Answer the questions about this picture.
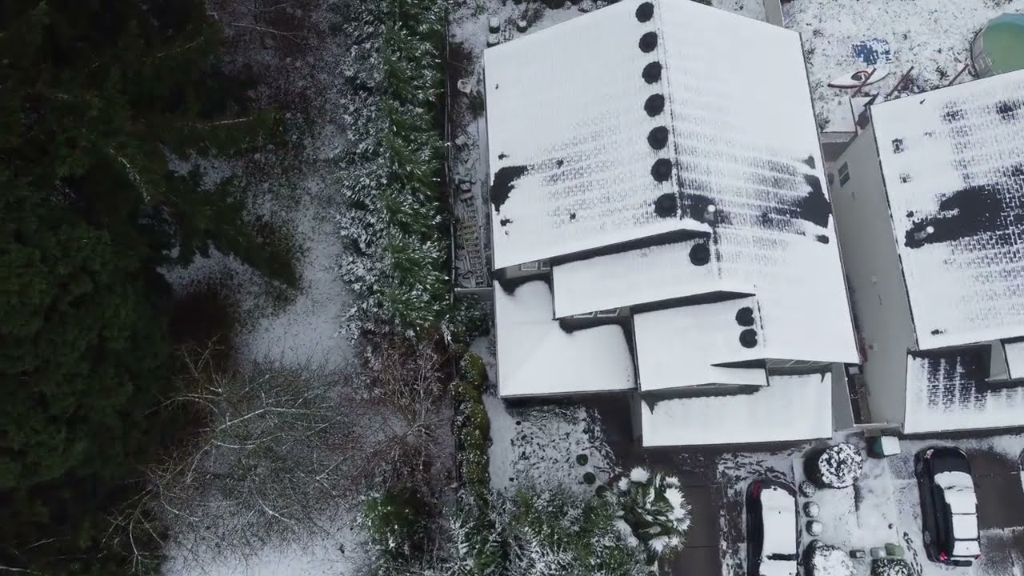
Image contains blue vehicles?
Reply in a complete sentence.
No, the frame has no blue vehicle in it.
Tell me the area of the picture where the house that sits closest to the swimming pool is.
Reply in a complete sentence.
The house that sits closest to the swimming pool sits in the right section of the image.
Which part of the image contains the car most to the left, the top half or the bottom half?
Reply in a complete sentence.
Seen from above, the car most to the left lies in the bottom half of the view.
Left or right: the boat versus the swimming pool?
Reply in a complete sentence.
Relative to the swimming pool, the boat is on the left.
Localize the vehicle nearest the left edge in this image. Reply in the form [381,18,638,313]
[743,479,805,576]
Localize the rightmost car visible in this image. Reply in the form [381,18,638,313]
[912,446,985,568]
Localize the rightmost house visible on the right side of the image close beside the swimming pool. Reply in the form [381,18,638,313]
[827,65,1024,436]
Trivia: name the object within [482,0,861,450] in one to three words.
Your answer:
house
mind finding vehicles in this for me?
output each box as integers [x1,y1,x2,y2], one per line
[743,479,805,576]
[912,446,985,568]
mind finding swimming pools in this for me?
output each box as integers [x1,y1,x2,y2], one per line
[970,3,1024,76]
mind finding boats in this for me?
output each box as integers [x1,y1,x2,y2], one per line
[830,65,895,85]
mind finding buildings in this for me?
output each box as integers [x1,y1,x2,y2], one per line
[827,65,1024,436]
[482,0,861,450]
